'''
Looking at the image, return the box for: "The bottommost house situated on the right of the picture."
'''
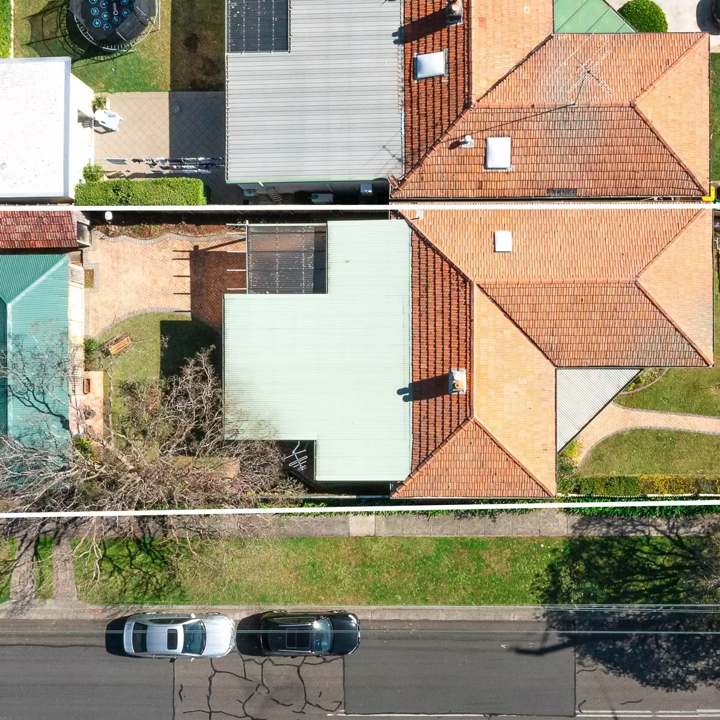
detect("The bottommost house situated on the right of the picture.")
[222,199,717,500]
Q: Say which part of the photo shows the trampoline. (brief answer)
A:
top left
